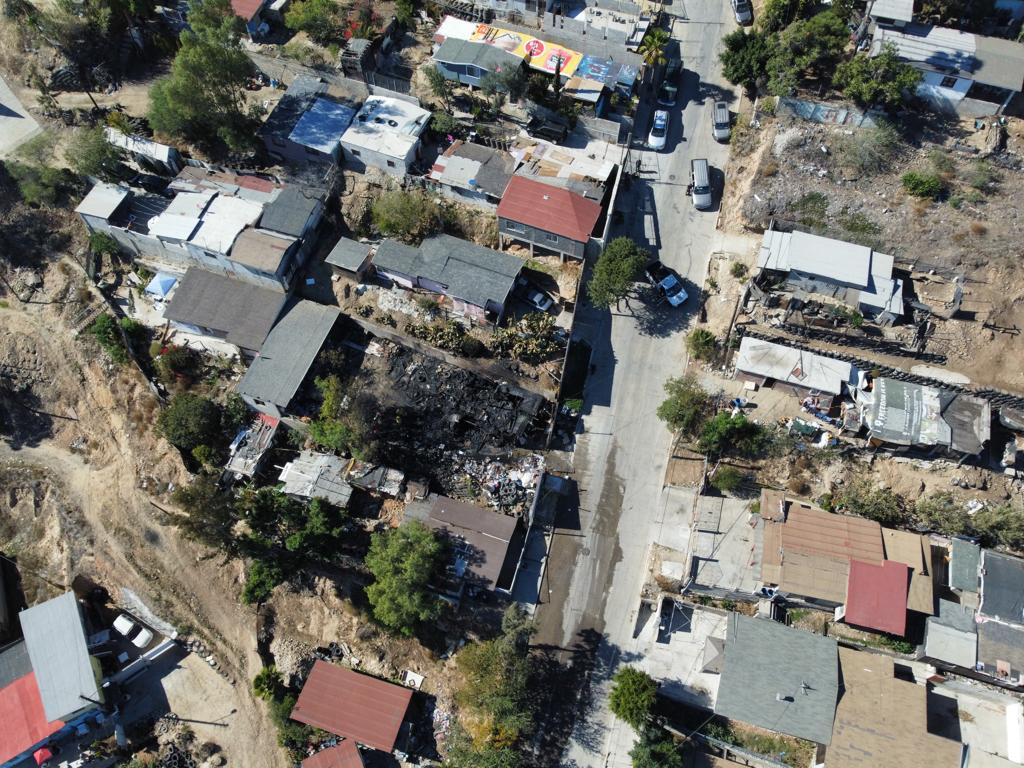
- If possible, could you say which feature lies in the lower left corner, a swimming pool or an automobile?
automobile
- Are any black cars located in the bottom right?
No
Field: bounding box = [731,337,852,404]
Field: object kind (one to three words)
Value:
building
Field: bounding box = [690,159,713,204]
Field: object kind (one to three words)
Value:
vehicle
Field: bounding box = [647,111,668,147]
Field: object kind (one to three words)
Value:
car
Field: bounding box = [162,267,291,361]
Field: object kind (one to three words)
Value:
house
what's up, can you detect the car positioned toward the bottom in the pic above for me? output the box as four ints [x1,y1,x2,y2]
[104,609,157,654]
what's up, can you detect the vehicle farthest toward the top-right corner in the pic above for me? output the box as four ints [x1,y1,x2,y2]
[731,0,752,21]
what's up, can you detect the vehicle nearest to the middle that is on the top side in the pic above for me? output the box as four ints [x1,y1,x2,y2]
[514,273,560,316]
